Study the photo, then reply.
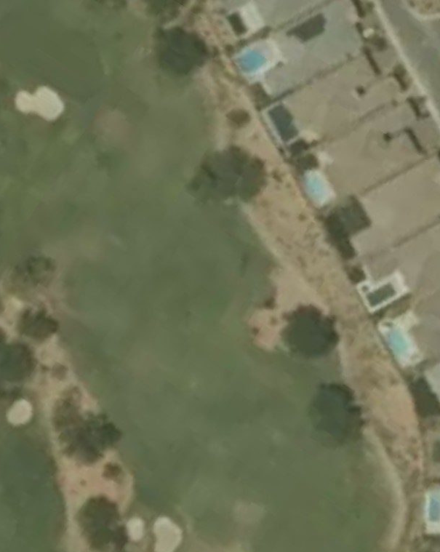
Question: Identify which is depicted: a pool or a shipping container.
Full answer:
The one in the frame is a pool.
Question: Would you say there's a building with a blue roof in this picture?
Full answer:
No, there's no building with a blue roof here.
